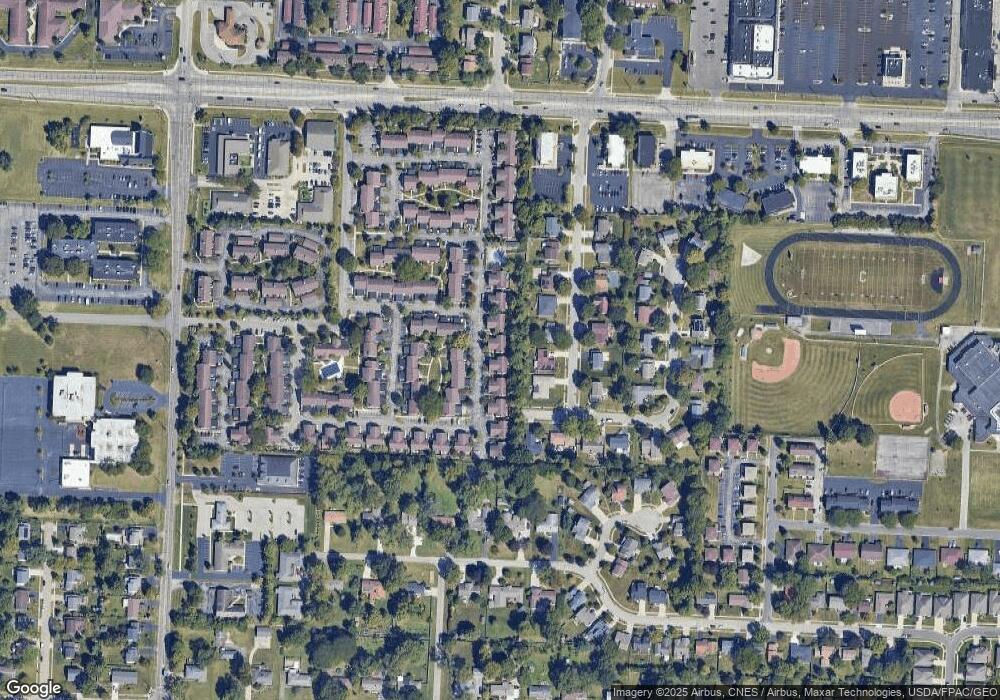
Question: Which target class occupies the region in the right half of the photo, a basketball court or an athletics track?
athletics track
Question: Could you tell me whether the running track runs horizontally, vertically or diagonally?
horizontally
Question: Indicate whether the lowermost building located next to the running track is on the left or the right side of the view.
right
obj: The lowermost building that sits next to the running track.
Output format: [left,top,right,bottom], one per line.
[947,333,1000,442]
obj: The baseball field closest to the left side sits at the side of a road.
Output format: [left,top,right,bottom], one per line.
[737,327,860,432]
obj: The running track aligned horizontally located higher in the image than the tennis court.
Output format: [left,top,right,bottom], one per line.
[755,232,961,320]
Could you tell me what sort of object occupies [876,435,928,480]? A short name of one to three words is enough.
tennis court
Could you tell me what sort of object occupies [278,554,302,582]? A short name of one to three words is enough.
building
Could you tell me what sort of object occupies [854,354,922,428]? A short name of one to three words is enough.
baseball field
